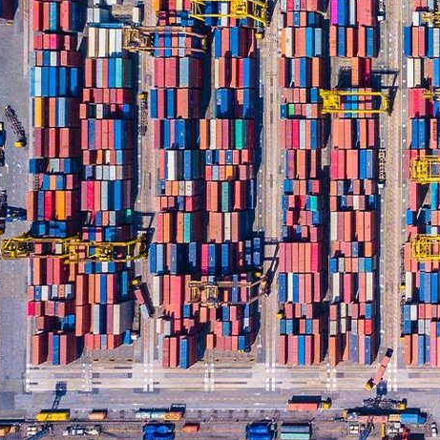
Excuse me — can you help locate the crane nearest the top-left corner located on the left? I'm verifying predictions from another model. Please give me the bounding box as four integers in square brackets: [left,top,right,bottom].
[125,25,208,58]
